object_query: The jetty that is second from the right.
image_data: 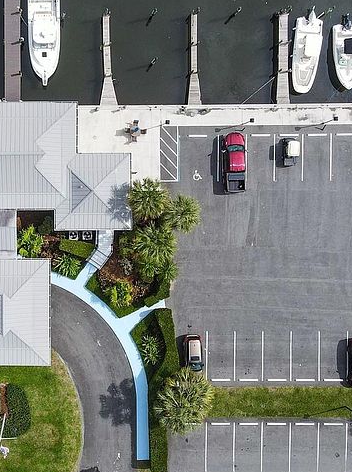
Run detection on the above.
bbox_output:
[185,9,205,105]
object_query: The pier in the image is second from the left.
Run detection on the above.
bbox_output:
[99,9,118,105]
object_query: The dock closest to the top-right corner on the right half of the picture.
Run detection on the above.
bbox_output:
[271,8,297,105]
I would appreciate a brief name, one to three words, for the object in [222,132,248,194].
truck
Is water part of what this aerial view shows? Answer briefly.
Yes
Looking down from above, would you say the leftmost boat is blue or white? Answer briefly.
white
